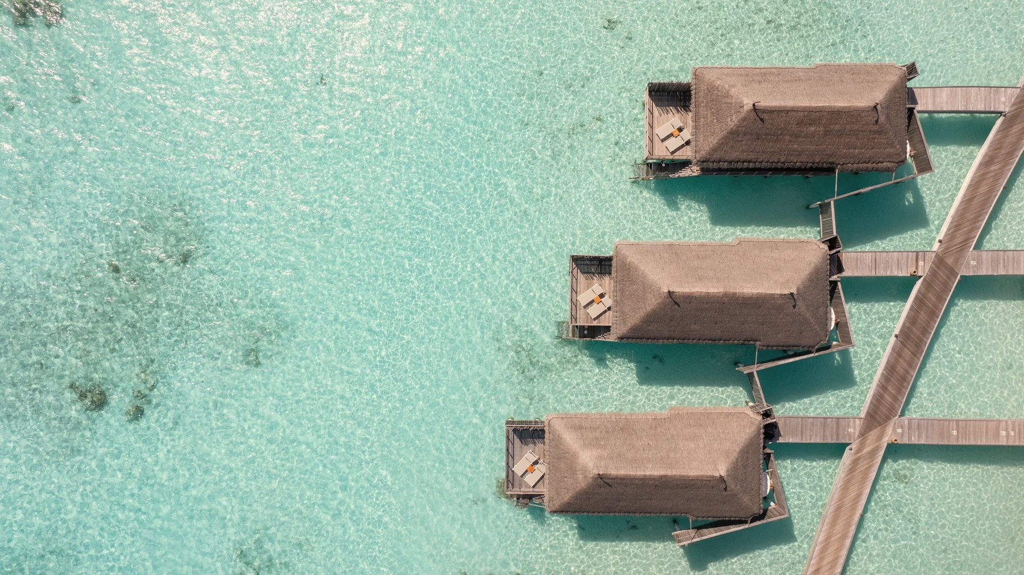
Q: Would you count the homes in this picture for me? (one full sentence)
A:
Looking from above, you can make out 3 homes.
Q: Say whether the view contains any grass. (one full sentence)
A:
No, the scene doesn't show any grass.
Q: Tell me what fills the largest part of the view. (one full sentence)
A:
Most of the picture is covered by water.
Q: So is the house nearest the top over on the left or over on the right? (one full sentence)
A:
It is on the right.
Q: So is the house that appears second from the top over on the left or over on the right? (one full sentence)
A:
The house that appears second from the top is on the right side of the image.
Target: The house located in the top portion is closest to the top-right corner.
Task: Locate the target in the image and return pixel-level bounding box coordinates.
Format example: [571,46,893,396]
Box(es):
[632,62,910,179]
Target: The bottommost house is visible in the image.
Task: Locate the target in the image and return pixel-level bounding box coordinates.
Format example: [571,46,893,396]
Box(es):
[498,406,764,521]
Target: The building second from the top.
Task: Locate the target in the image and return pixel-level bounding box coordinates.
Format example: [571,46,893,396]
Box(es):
[559,235,831,349]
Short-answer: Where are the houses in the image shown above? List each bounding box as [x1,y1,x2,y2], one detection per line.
[498,406,764,521]
[559,235,831,349]
[632,62,910,179]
